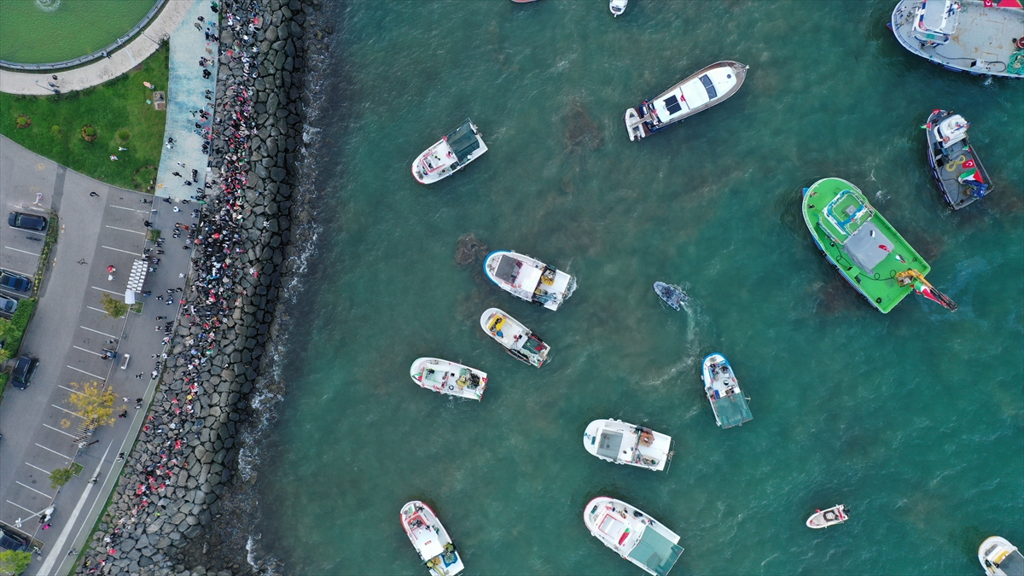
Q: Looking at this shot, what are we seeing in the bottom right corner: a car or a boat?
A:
boat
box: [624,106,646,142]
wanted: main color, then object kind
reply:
white boat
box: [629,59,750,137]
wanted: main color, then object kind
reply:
white boat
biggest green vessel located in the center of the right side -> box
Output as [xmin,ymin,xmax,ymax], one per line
[798,177,953,314]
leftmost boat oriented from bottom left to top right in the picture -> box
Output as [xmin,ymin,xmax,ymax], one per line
[411,118,488,185]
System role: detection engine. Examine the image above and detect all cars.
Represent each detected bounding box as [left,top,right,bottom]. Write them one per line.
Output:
[0,295,25,316]
[9,211,51,234]
[0,524,32,554]
[10,351,42,393]
[0,270,37,293]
